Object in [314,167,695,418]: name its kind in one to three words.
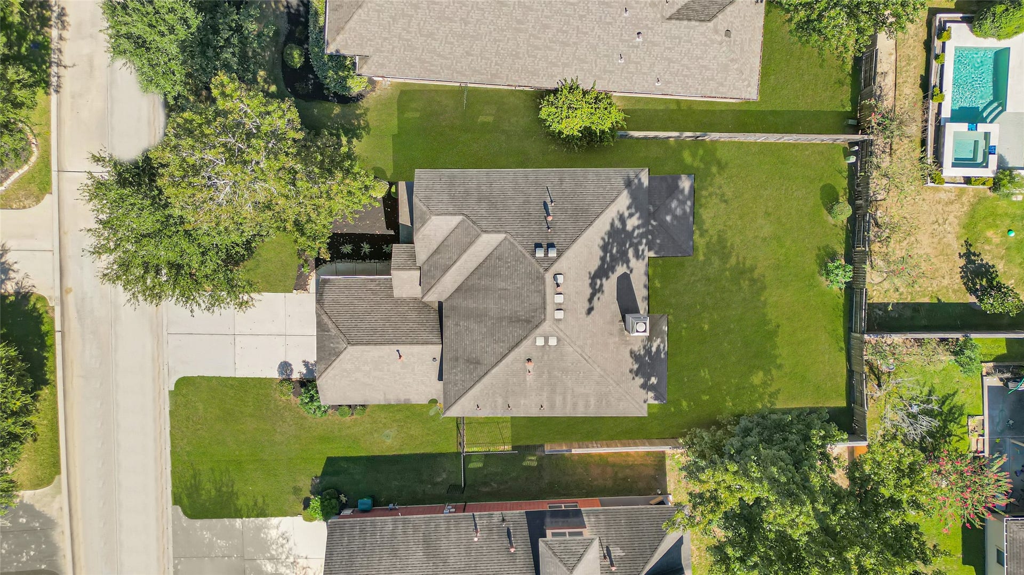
house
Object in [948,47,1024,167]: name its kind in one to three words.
swimming pool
